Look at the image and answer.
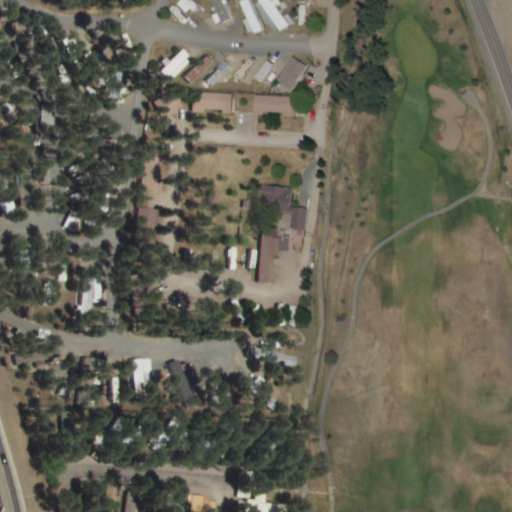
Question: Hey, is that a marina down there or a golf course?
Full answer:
It's a golf course.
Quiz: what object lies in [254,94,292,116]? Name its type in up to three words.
building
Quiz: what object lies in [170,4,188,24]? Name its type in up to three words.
camper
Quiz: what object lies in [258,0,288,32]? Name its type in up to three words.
house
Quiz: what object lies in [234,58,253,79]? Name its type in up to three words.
camper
